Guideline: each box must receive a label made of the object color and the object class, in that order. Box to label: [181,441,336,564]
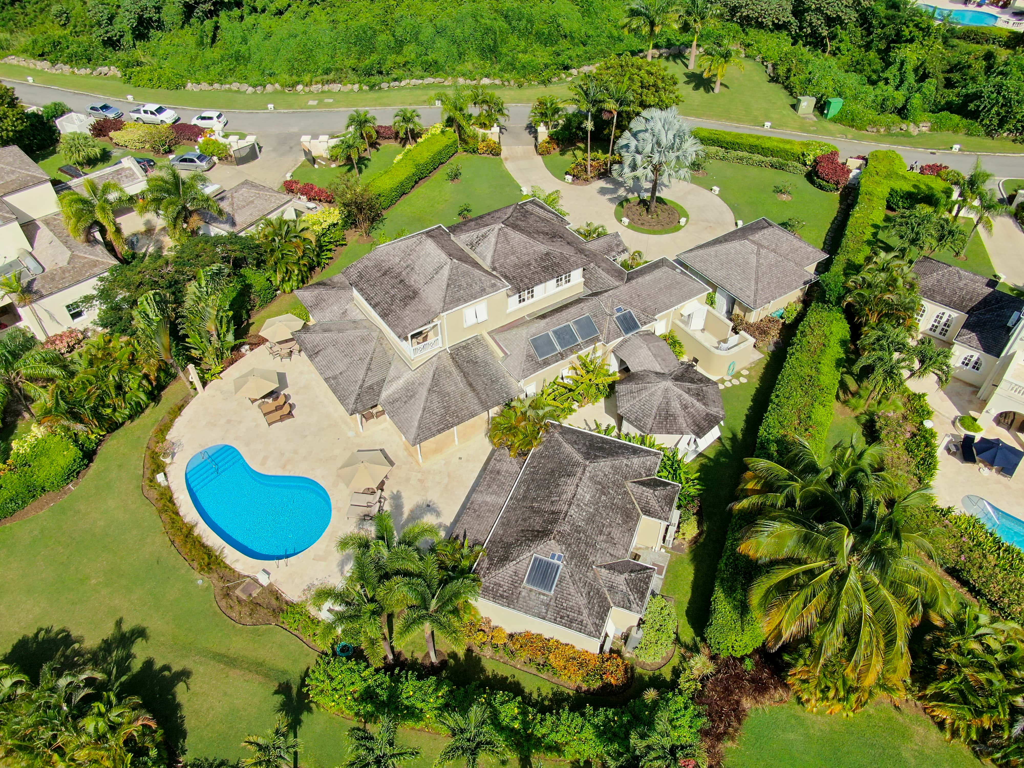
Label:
blue swimming pool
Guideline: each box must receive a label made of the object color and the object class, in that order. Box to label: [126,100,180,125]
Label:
white truck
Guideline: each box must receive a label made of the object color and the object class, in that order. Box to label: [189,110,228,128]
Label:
white car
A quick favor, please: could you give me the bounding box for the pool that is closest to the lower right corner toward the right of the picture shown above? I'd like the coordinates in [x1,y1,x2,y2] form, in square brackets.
[957,491,1024,557]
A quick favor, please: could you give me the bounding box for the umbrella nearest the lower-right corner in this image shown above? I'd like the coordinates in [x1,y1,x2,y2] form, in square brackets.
[969,432,1024,472]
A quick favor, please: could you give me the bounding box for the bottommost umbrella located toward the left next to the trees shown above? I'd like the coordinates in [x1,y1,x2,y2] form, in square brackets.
[338,448,391,490]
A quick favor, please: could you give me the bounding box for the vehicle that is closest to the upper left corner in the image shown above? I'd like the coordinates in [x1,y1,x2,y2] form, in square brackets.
[80,100,125,119]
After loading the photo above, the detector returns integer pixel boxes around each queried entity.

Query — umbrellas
[969,432,1024,472]
[236,372,284,410]
[259,313,306,350]
[338,448,391,490]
